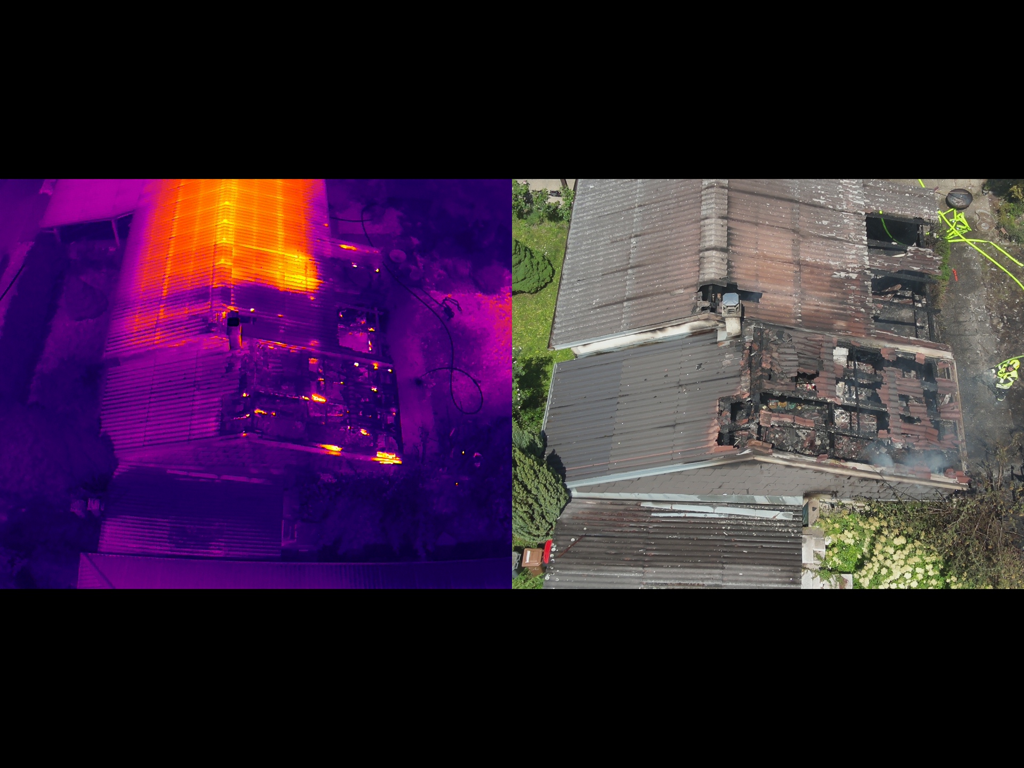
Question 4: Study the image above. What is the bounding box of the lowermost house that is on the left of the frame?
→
[68,553,512,589]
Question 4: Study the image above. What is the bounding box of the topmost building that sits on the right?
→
[545,179,955,406]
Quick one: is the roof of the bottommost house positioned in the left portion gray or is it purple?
purple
